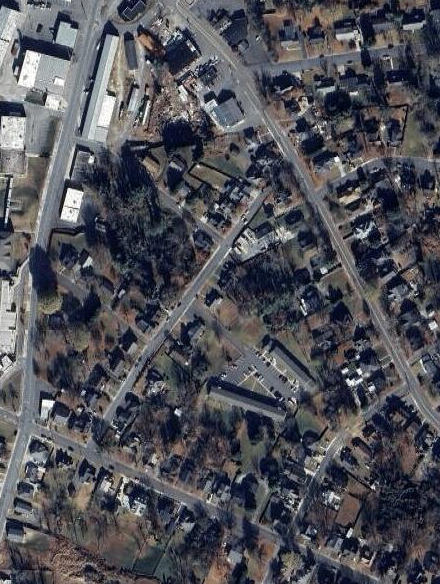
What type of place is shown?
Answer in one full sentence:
What you see here is a residential area.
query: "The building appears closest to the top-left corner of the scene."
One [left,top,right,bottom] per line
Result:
[0,7,24,41]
